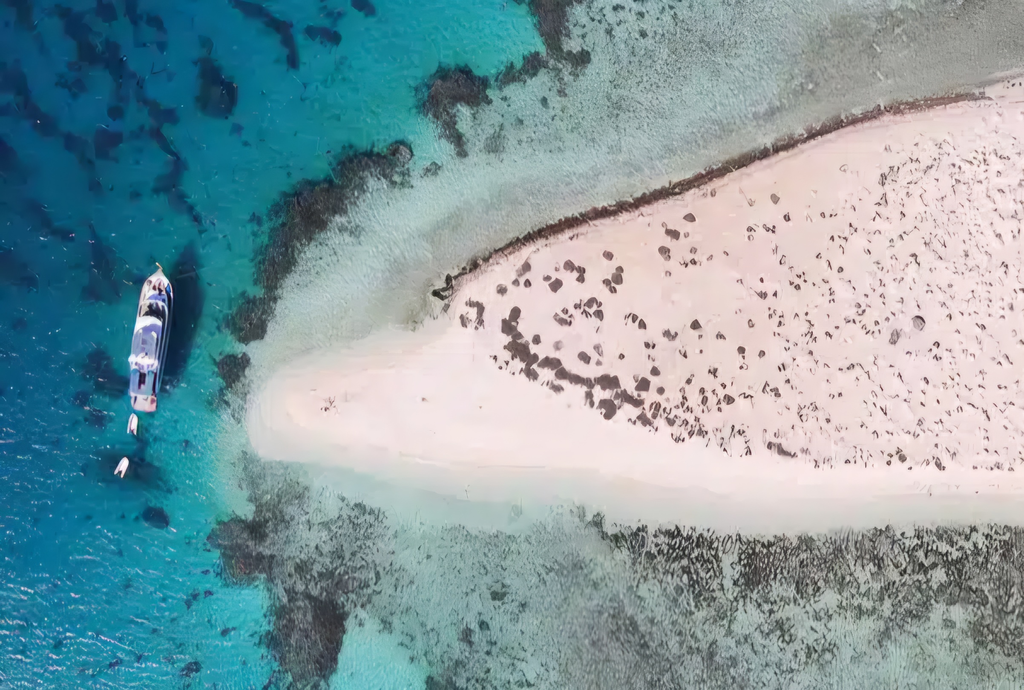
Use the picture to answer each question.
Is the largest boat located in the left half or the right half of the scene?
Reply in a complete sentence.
The largest boat appears in the left half of the scene.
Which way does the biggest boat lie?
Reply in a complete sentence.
The biggest boat is oriented from top to bottom.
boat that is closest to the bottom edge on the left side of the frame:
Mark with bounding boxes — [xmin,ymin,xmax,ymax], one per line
[114,456,129,479]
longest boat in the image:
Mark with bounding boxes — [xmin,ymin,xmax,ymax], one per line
[122,265,175,413]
